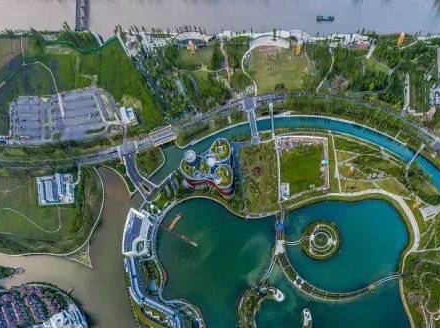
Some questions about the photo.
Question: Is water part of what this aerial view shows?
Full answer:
Yes, the picture does contain water.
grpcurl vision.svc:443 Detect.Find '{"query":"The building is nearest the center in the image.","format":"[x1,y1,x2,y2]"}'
[181,138,236,193]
